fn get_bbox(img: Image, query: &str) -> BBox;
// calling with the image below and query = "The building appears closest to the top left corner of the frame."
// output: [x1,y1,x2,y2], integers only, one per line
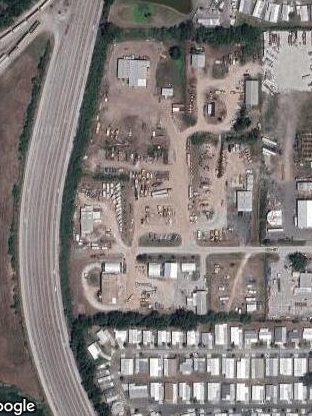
[117,59,150,86]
